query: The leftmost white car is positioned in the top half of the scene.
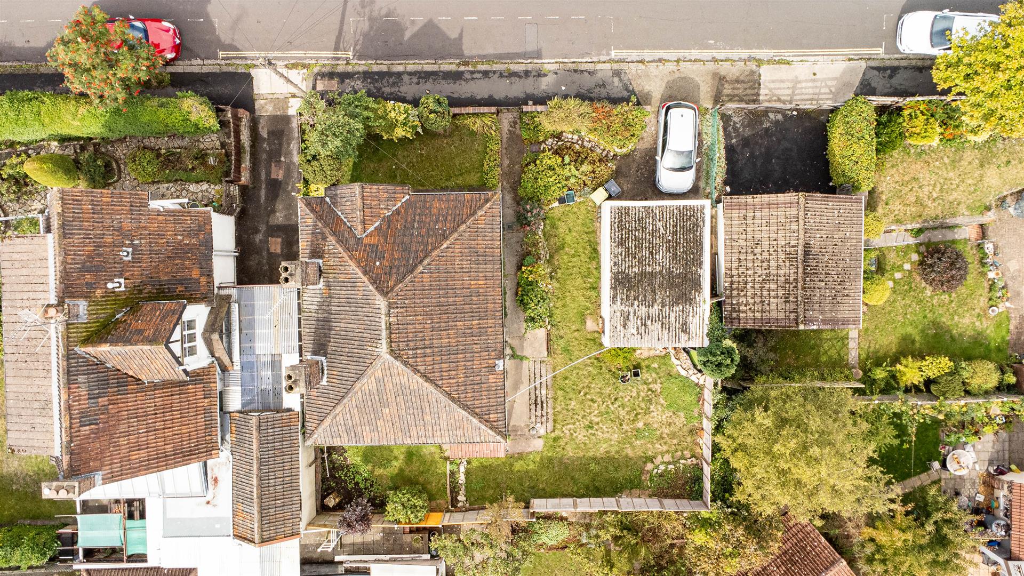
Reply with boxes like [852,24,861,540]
[654,102,702,194]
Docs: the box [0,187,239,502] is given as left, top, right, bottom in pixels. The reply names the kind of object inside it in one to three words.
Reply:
house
